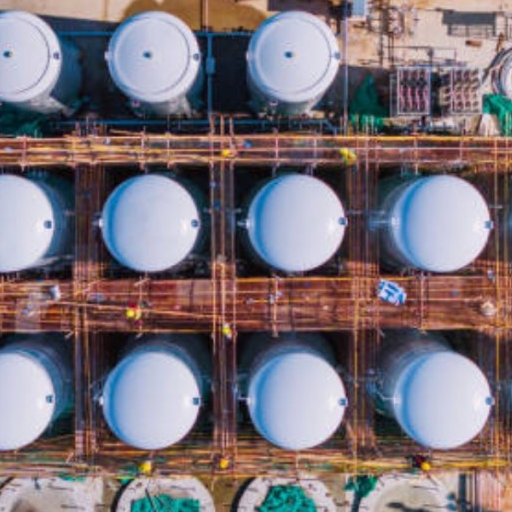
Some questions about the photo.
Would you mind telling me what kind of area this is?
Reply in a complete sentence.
It's an industrial area.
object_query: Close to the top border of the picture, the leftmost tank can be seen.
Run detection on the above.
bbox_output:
[0,10,83,116]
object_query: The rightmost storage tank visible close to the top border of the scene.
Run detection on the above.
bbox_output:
[232,9,340,119]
